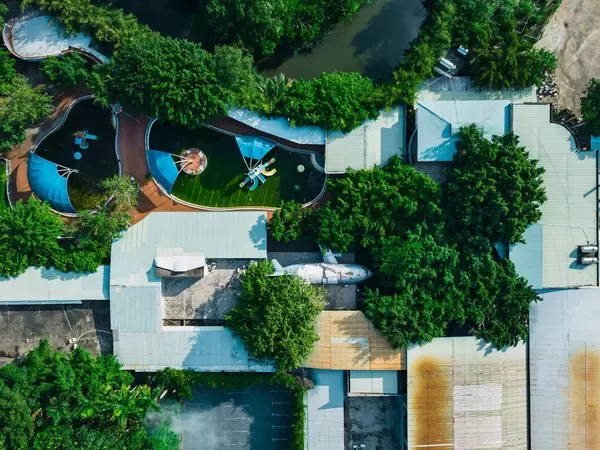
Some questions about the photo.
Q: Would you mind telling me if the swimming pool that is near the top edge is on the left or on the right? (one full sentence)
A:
The swimming pool that is near the top edge is on the left side of the image.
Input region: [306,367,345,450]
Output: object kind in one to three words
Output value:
shed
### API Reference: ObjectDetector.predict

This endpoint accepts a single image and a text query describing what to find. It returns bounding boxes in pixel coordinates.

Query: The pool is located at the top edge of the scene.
[1,13,112,65]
